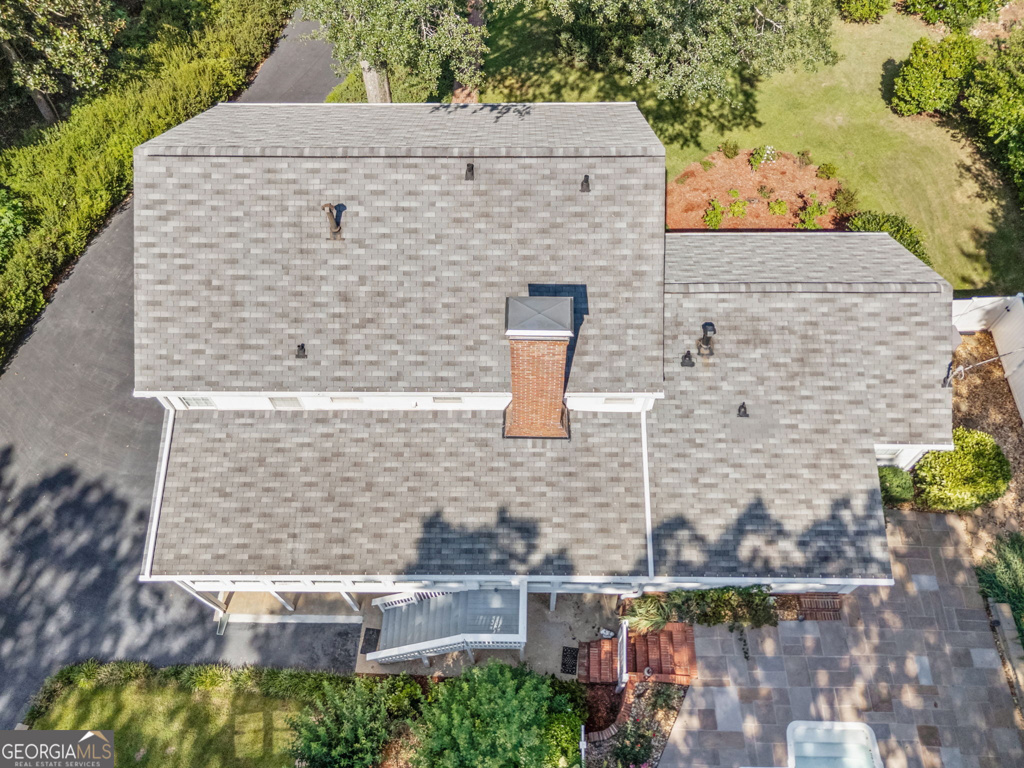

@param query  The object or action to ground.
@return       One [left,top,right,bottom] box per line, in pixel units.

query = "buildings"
[132,101,964,620]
